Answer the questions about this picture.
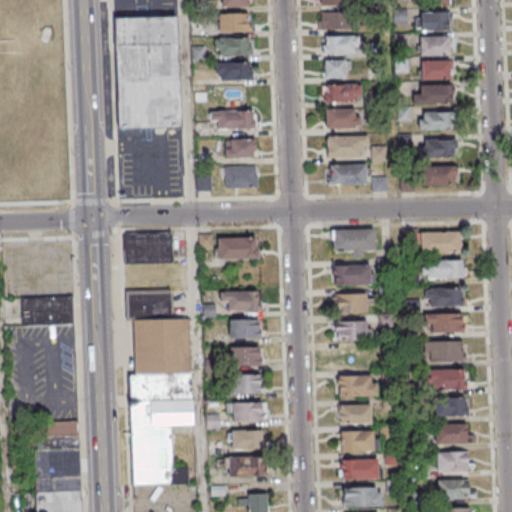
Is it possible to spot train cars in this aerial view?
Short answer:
No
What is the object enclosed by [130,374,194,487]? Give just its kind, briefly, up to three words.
building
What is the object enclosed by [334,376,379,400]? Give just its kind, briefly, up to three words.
house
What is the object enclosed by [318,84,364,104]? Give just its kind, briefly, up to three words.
house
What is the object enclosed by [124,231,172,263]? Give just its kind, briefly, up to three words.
building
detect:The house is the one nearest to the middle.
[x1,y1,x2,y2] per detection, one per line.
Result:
[217,237,262,259]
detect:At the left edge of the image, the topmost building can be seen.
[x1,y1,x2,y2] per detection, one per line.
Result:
[21,296,72,324]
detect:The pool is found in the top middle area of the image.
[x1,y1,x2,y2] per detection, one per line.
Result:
[224,88,243,100]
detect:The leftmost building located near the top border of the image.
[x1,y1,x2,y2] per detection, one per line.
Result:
[115,16,181,127]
